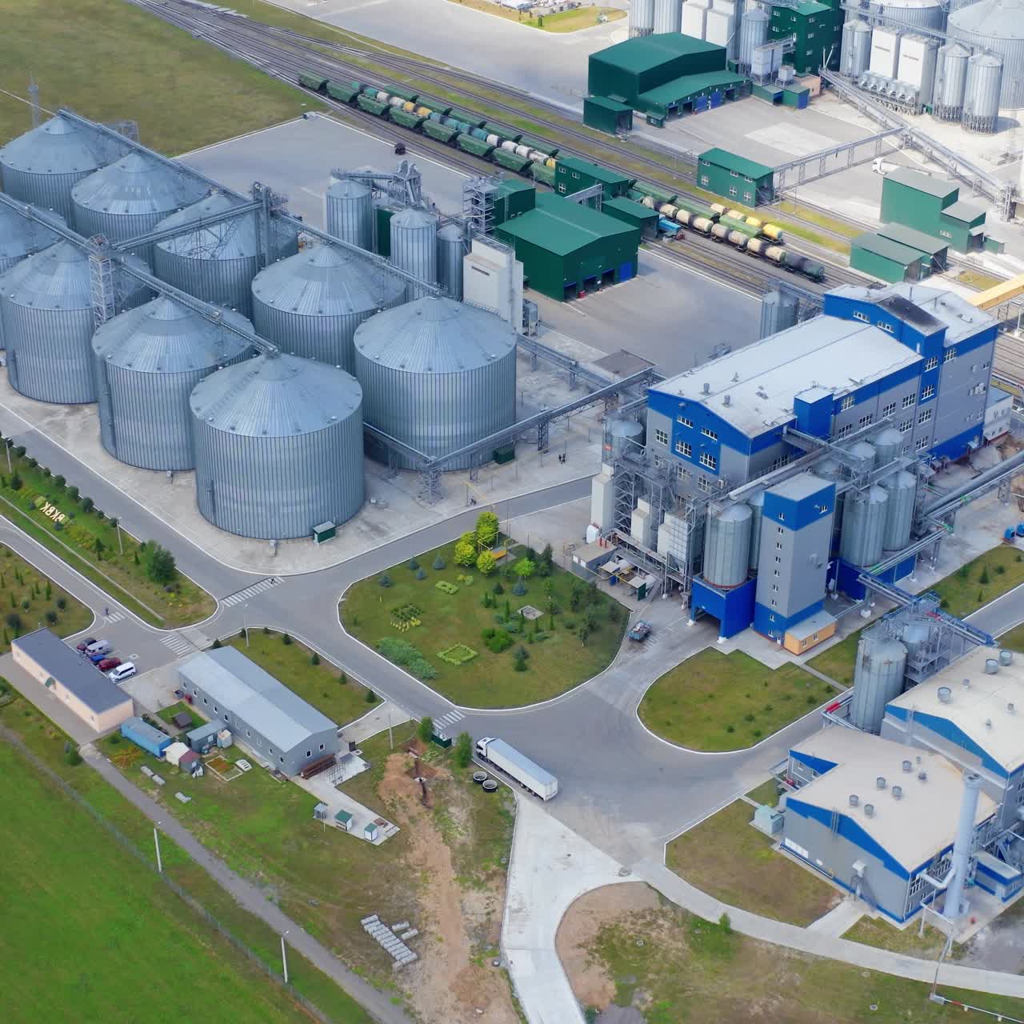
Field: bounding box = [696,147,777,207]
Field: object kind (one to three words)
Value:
building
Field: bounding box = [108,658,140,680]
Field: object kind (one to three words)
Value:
vehicle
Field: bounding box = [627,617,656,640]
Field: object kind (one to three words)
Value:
truck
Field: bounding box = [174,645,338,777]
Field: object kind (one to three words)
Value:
building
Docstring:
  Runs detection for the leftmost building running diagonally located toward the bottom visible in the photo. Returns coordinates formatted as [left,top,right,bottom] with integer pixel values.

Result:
[9,624,135,731]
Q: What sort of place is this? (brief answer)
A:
industrial area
